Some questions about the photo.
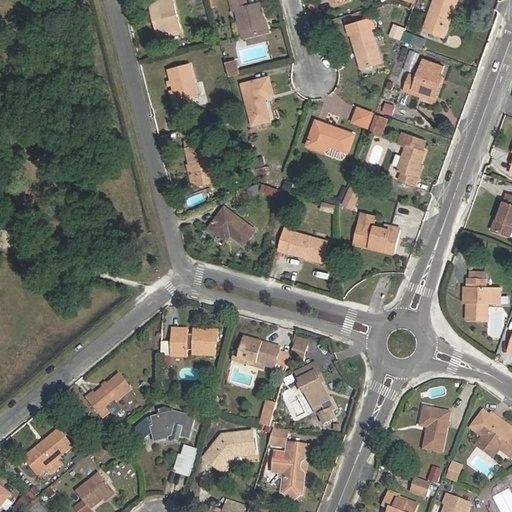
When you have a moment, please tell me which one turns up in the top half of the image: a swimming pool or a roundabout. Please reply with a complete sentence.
The feature located in the top half of the image is a swimming pool.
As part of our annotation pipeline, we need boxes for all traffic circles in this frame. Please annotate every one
[368,308,437,382]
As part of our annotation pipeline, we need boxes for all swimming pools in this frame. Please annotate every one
[186,193,206,208]
[178,368,199,382]
[231,370,253,386]
[237,40,270,64]
[290,398,305,416]
[420,386,448,400]
[471,456,495,474]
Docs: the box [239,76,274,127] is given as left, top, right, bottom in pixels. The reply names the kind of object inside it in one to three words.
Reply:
house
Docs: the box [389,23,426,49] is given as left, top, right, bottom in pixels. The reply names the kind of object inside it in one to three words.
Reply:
shed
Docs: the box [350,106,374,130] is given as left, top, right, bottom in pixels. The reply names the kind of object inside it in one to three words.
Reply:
building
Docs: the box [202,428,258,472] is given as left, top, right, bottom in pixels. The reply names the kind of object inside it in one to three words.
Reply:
house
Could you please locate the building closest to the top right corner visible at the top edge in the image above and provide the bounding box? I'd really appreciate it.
[421,0,458,42]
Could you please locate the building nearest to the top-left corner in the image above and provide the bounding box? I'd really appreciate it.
[149,0,184,38]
